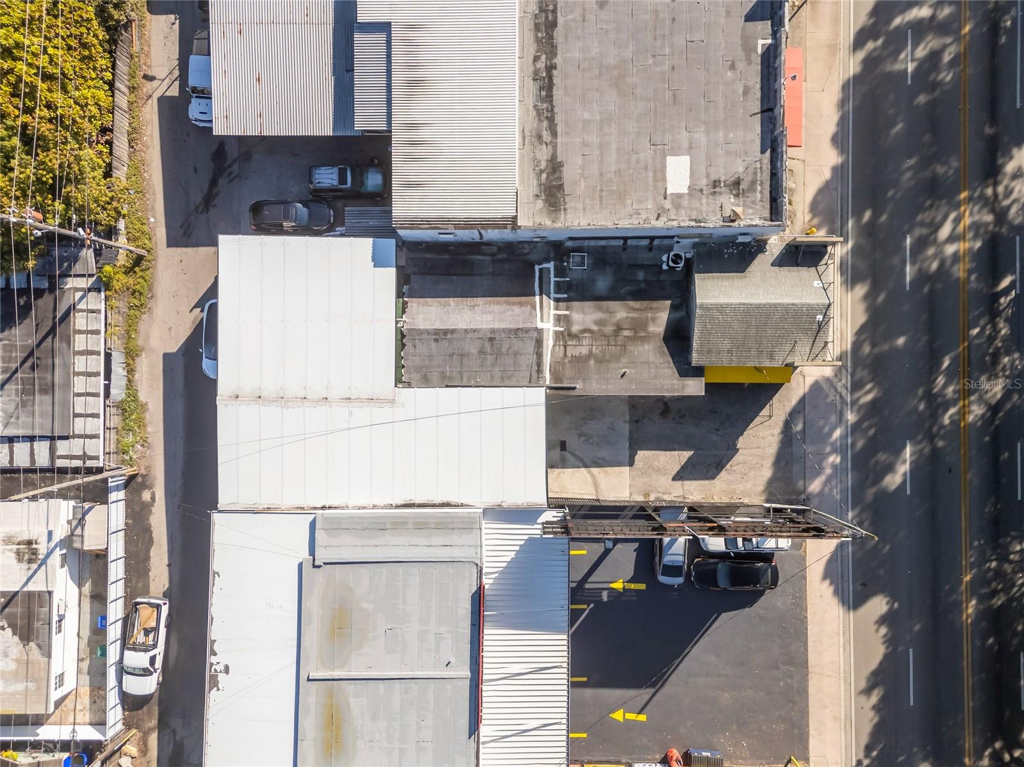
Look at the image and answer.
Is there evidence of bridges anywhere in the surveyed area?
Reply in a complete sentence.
No, the picture doesn't show any bridge.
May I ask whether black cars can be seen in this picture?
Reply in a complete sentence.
Yes, there's a black car down there.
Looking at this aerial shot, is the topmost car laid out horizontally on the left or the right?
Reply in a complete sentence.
The topmost car laid out horizontally is on the left side of the image.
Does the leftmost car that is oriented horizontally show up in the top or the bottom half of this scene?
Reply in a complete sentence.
Seen from above, the leftmost car that is oriented horizontally lies in the top half of the view.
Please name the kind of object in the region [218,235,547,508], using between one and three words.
building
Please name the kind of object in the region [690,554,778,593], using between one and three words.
car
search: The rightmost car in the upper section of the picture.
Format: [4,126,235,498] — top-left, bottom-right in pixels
[310,164,391,203]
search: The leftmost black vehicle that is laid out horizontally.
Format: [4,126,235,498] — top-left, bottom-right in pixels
[252,198,336,235]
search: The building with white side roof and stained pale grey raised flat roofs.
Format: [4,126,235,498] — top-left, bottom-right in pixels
[202,507,485,767]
